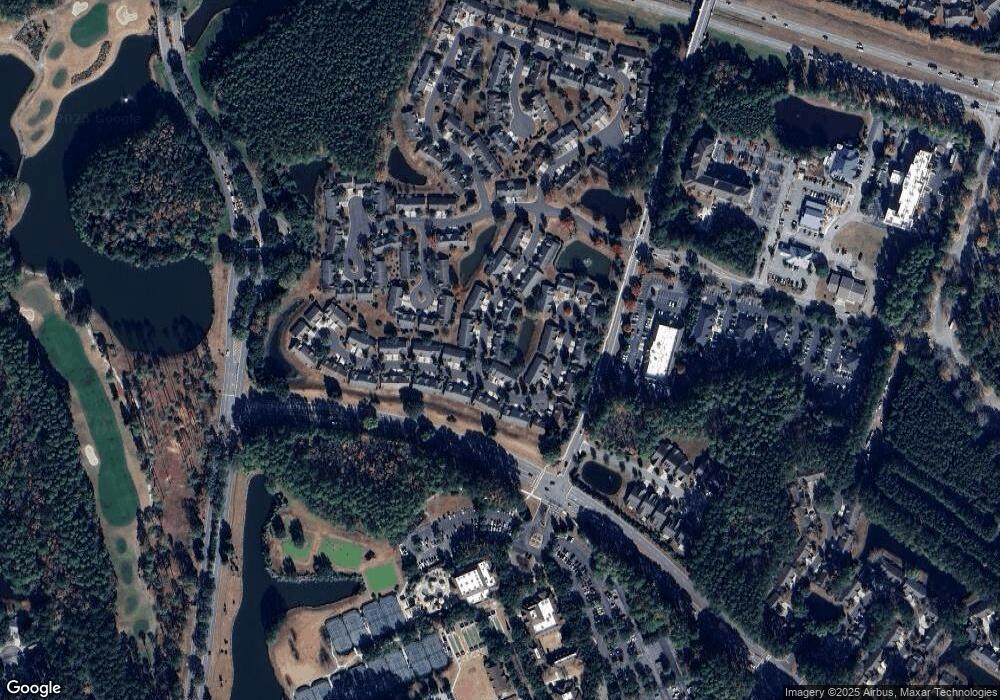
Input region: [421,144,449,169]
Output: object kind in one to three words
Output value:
house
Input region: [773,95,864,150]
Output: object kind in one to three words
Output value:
pond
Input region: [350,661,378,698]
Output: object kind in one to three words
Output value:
tennis court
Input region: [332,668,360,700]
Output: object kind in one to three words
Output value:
tennis court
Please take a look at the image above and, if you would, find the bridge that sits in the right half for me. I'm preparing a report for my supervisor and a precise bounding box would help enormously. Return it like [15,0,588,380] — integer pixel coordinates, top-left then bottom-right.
[685,0,711,58]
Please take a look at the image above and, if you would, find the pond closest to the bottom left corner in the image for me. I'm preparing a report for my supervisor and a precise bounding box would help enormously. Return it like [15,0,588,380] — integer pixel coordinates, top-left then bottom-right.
[229,474,365,700]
